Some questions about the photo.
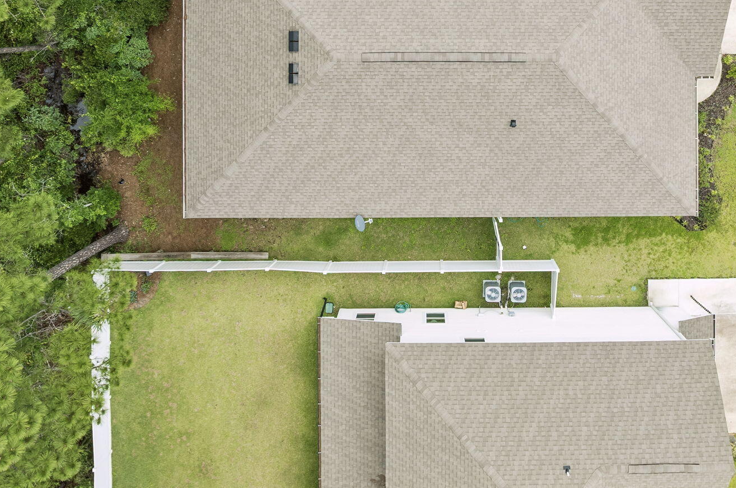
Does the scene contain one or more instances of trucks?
No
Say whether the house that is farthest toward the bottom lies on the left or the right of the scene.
right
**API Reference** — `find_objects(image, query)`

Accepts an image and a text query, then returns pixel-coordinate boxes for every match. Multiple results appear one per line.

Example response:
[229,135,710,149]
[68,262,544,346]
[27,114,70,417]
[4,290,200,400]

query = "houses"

[318,295,734,488]
[183,0,729,220]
